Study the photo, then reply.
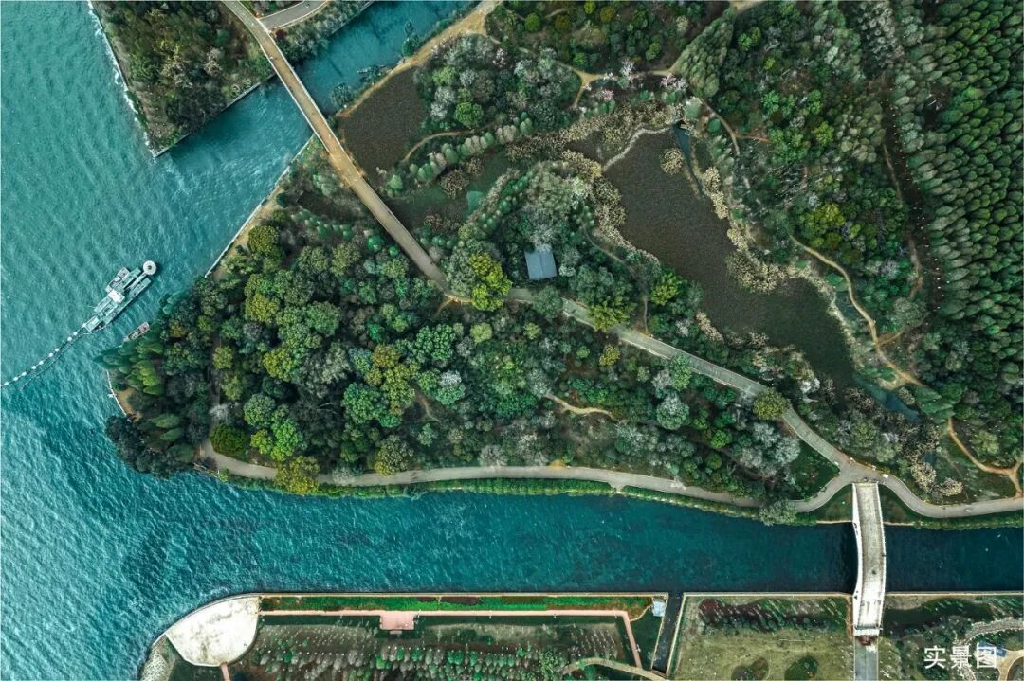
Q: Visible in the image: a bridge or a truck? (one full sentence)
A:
Of the two, only a bridge appears.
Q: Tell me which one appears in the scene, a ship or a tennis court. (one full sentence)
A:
This aerial view contains a ship.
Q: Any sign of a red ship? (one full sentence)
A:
No, I find no red ship anywhere in the image.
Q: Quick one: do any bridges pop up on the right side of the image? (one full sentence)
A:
Yes, you'll find a bridge on the right side of the image.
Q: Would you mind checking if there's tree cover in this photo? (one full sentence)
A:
Yes, tree cover shows up in the scene.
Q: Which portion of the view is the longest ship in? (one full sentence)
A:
The longest ship is in the left part of the image.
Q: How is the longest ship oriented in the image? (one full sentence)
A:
In this picture, the longest ship lies diagonally.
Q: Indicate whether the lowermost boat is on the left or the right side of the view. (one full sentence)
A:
You can find the lowermost boat on the left side of the picture.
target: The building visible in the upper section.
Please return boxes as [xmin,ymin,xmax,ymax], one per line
[525,246,558,280]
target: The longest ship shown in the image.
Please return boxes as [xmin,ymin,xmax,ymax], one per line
[86,260,156,332]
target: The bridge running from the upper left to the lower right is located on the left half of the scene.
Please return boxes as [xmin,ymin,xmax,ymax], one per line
[270,51,370,192]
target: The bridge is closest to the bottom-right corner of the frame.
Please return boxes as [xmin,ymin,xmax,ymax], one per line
[851,483,889,636]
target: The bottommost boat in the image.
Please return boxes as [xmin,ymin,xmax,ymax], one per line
[127,322,150,342]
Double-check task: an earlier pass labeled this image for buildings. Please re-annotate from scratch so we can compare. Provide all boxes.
[653,601,667,619]
[525,246,558,280]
